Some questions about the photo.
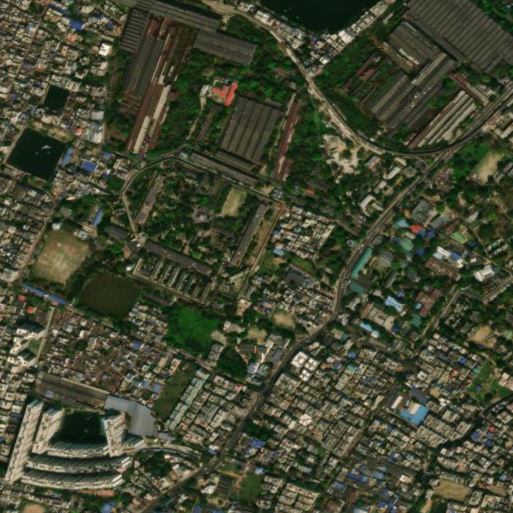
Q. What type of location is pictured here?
residential area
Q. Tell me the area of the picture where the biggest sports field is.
left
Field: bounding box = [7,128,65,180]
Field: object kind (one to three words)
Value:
pond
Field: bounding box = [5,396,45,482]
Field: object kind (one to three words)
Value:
building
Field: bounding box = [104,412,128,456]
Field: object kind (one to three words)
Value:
building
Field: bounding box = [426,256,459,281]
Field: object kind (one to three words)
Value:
shed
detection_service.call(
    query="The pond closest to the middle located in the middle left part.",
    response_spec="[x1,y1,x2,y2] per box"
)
[80,272,139,317]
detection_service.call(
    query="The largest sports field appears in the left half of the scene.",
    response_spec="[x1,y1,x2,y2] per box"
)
[34,229,90,283]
